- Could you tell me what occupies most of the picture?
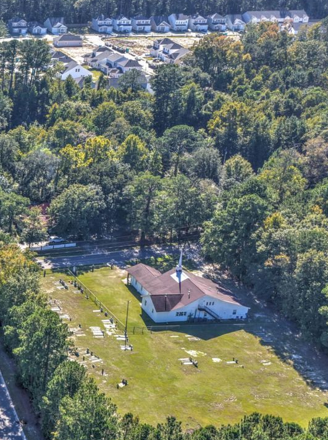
trees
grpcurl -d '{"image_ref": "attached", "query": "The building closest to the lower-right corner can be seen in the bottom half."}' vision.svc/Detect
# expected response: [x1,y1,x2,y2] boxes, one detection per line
[124,250,254,323]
